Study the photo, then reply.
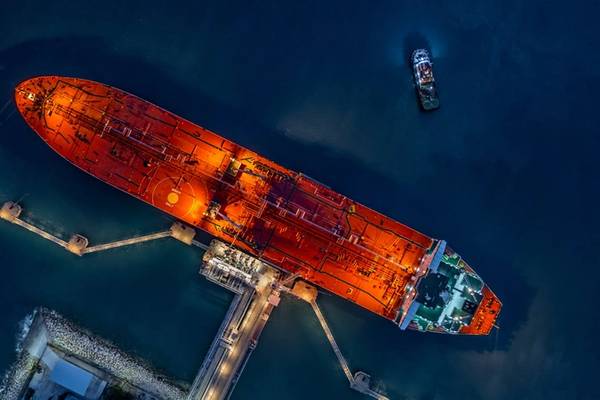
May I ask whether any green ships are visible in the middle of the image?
No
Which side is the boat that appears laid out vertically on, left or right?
right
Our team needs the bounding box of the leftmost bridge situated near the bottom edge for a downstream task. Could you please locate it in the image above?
[188,281,273,400]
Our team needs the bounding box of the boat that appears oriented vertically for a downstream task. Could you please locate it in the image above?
[411,49,439,111]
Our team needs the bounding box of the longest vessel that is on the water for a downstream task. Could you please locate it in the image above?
[12,76,504,334]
